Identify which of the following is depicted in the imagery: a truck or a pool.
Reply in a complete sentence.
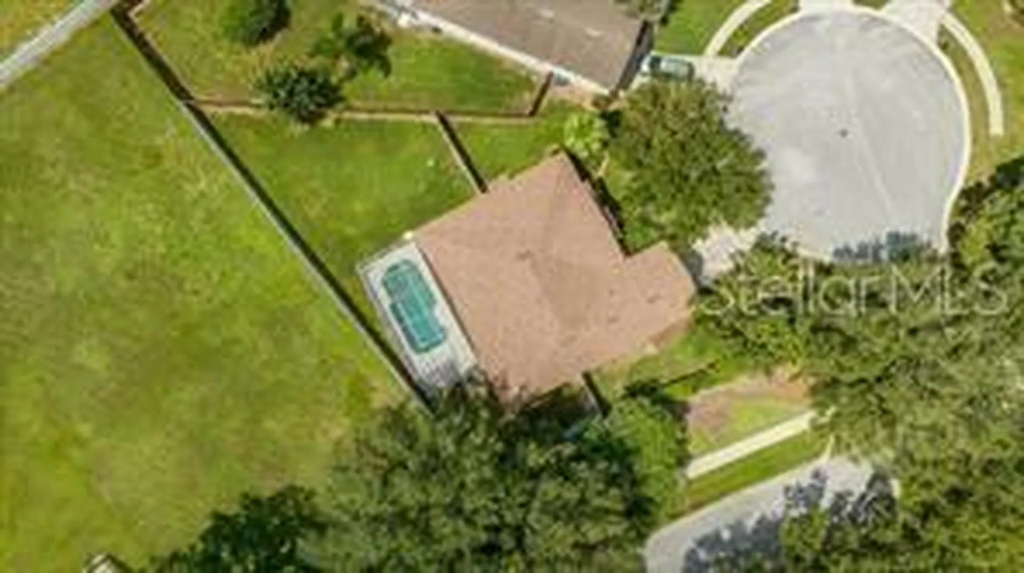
The one in the frame is a pool.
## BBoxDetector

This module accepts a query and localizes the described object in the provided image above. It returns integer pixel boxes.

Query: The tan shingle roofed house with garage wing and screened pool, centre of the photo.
[412,151,698,406]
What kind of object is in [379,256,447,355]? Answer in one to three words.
swimming pool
